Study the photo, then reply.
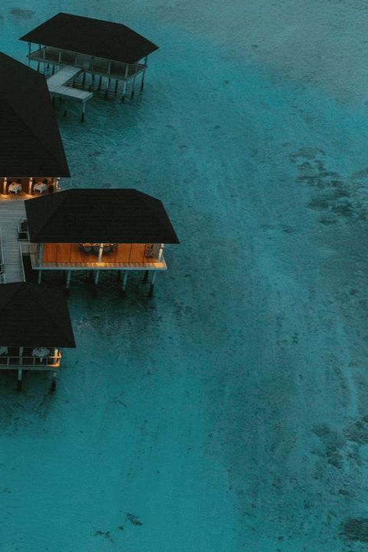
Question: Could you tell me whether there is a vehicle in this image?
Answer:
No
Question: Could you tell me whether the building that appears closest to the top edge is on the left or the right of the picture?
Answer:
left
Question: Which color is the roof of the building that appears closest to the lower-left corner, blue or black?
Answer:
black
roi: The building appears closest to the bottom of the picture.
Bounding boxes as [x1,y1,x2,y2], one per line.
[0,280,76,404]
